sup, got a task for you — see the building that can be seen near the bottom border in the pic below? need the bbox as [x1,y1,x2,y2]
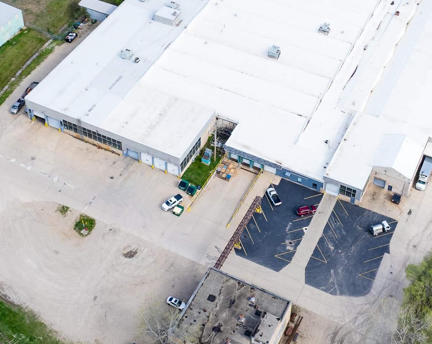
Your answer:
[170,267,291,344]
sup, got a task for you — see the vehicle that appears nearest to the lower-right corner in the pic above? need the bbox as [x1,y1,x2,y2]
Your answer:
[368,221,392,234]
